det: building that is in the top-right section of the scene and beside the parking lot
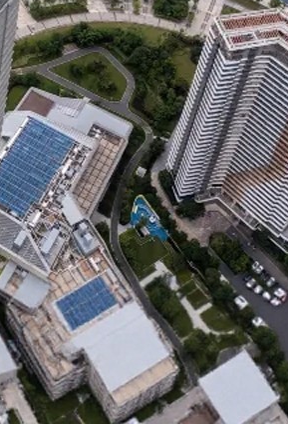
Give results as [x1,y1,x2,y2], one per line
[167,2,288,224]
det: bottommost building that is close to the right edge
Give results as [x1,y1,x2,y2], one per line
[196,350,279,424]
